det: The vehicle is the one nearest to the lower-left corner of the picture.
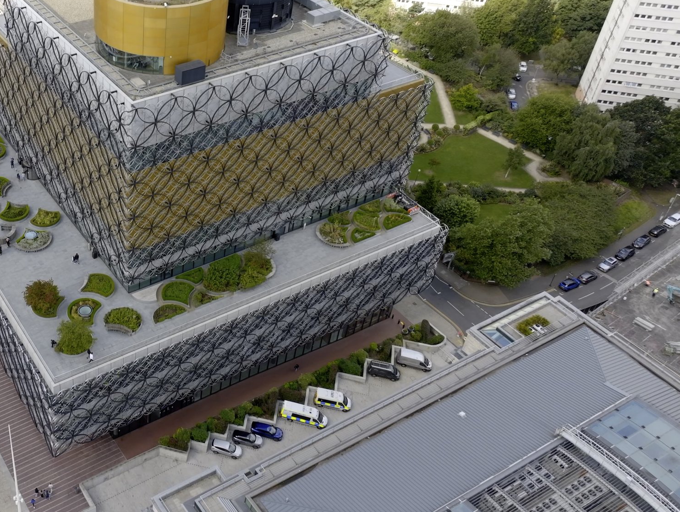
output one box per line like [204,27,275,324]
[210,436,243,459]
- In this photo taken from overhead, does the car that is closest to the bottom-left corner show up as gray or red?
gray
